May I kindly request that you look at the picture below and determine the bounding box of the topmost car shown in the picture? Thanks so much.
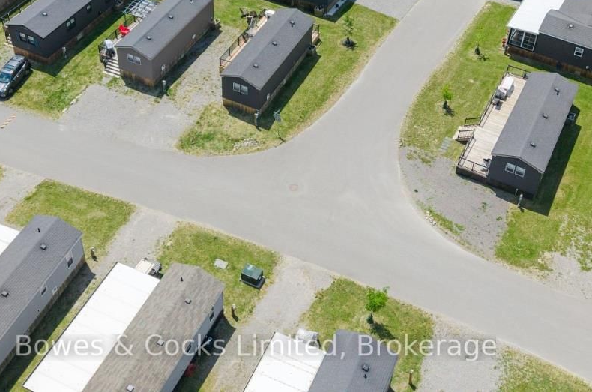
[0,57,30,98]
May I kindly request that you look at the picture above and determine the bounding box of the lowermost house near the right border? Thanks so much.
[488,73,578,199]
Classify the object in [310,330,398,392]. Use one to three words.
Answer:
house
